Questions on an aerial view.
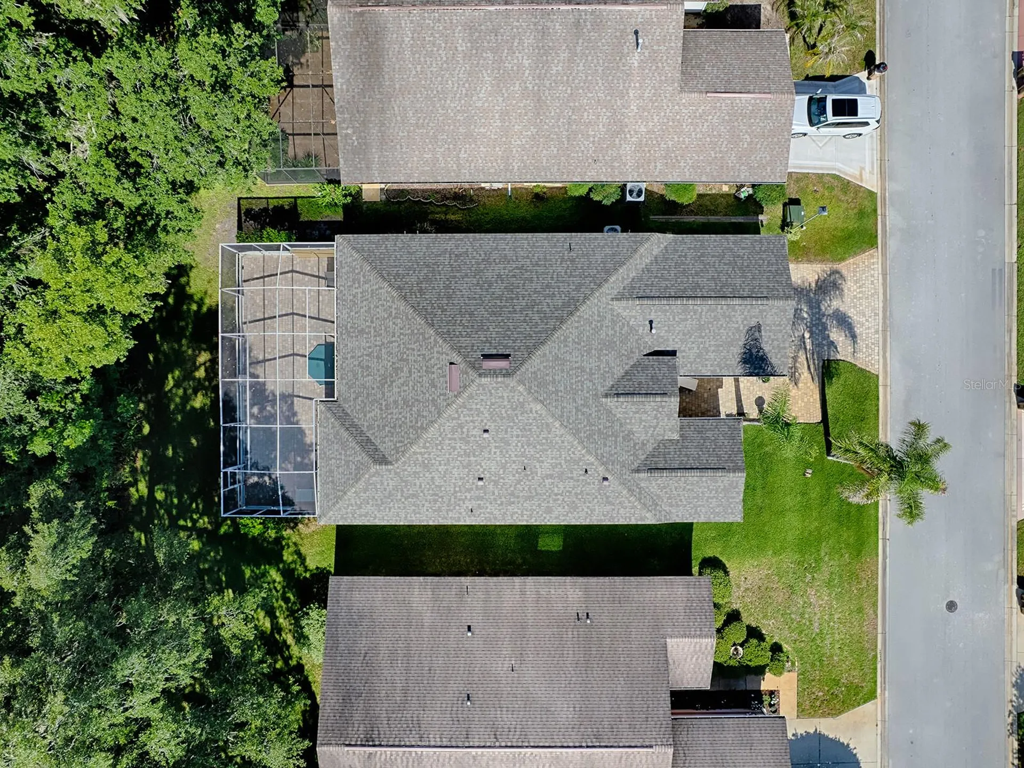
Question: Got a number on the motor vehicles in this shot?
1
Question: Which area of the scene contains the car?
top right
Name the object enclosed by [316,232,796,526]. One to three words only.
house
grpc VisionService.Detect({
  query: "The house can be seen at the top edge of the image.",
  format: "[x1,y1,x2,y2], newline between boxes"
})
[326,0,797,199]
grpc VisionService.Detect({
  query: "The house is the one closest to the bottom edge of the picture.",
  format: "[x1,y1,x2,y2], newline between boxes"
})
[317,575,791,768]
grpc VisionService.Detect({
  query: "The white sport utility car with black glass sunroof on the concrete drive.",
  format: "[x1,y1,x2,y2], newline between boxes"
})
[793,88,882,138]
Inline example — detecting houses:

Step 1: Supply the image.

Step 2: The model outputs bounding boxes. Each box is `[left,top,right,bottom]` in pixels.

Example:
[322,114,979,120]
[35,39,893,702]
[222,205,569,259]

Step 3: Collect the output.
[316,232,796,526]
[326,0,797,199]
[317,575,791,768]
